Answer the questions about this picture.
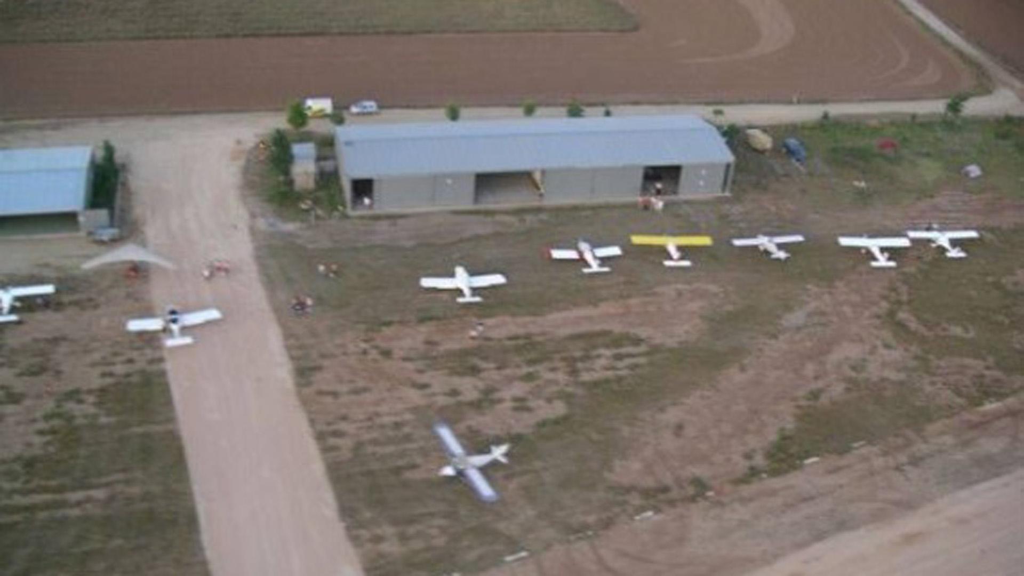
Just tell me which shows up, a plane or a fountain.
plane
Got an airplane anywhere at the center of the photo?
Yes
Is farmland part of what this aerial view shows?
Yes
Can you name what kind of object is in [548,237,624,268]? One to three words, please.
airplane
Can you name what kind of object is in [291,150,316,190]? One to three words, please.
shed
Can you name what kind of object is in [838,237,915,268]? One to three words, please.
airplane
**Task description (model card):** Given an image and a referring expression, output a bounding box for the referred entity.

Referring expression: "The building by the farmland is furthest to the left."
[0,147,95,240]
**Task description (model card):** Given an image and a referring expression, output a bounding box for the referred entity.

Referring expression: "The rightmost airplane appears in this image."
[907,229,982,258]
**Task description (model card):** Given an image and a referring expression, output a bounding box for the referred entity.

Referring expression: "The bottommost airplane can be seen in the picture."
[430,423,511,500]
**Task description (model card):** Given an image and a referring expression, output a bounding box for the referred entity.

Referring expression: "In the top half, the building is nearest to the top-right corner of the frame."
[333,113,737,214]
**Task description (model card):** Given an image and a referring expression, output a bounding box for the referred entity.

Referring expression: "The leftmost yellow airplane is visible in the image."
[630,237,715,267]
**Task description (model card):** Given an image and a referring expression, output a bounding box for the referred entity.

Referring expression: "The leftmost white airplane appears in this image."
[0,283,61,320]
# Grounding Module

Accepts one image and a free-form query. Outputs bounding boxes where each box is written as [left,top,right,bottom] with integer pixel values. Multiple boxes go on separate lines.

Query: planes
[80,246,174,282]
[430,423,511,500]
[548,237,624,268]
[630,237,715,267]
[419,267,507,301]
[907,229,982,258]
[732,235,806,260]
[124,304,223,343]
[838,237,915,268]
[0,283,61,320]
